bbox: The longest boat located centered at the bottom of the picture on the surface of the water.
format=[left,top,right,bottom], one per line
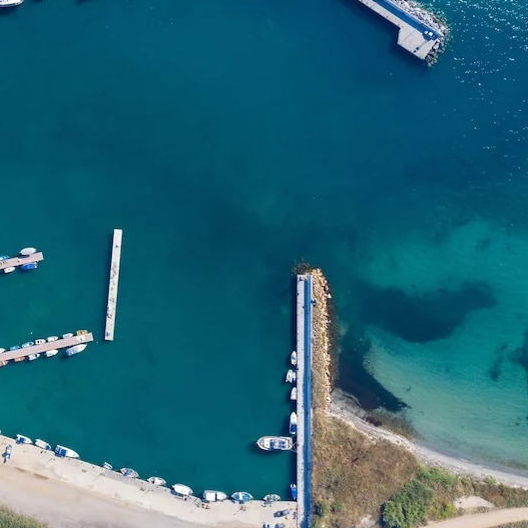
[257,436,297,450]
